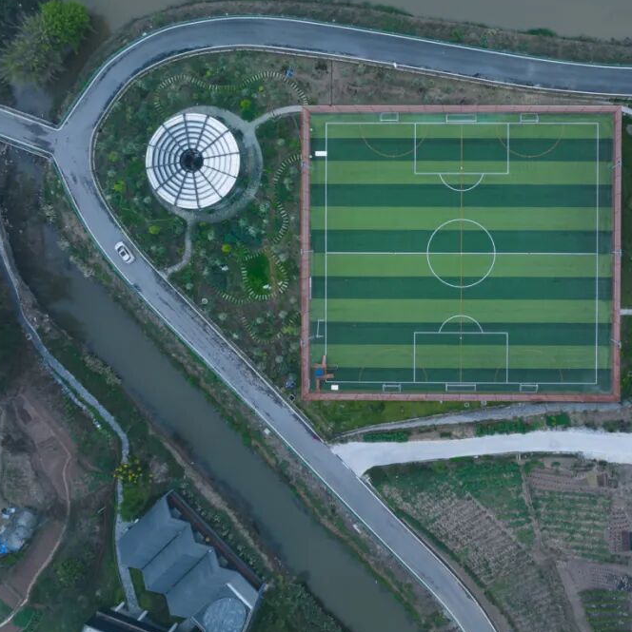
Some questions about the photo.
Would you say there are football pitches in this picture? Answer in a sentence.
Yes, the image includes a football pitch.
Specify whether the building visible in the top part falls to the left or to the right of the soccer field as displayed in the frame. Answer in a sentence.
The building visible in the top part is to the left of the soccer field.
